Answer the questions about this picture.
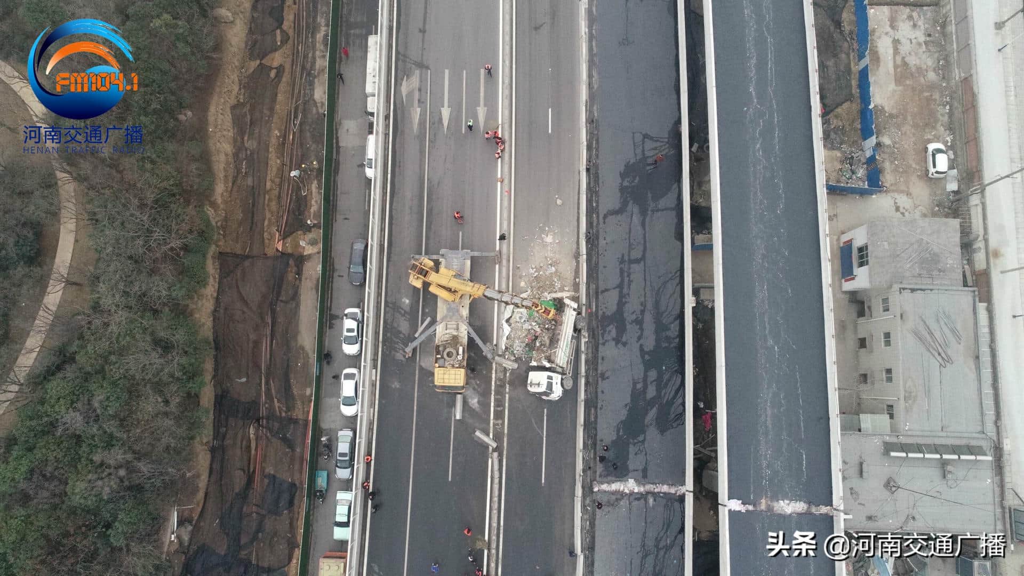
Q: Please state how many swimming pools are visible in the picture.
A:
none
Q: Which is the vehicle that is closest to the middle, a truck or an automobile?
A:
truck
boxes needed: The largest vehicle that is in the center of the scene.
[523,293,580,404]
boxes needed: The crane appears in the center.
[405,249,560,393]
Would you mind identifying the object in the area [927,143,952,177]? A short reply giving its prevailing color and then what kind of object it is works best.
white car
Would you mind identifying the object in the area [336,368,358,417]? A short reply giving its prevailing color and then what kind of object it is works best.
white car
